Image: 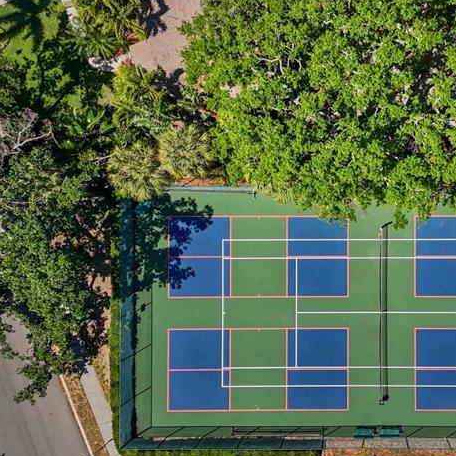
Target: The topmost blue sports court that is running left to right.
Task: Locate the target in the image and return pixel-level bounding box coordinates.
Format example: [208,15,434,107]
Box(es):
[168,215,350,298]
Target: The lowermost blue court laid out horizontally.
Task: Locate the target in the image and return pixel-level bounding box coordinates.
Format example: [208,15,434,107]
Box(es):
[168,328,349,411]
